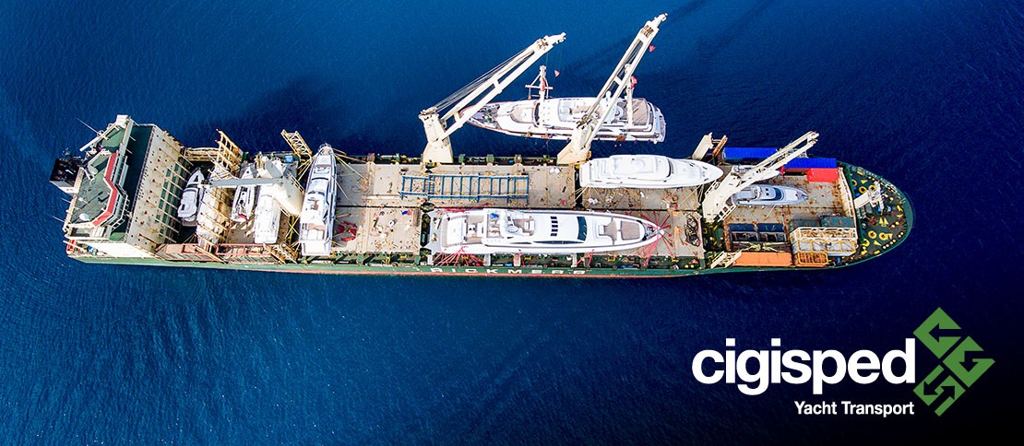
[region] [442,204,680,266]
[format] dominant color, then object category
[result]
white boat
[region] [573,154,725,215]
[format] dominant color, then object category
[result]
white boat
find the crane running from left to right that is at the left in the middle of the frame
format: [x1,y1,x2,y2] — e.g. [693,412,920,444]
[199,172,309,214]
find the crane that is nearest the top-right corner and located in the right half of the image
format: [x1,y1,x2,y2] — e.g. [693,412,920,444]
[859,178,893,208]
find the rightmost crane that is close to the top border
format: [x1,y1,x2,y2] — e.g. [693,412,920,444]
[558,6,672,171]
